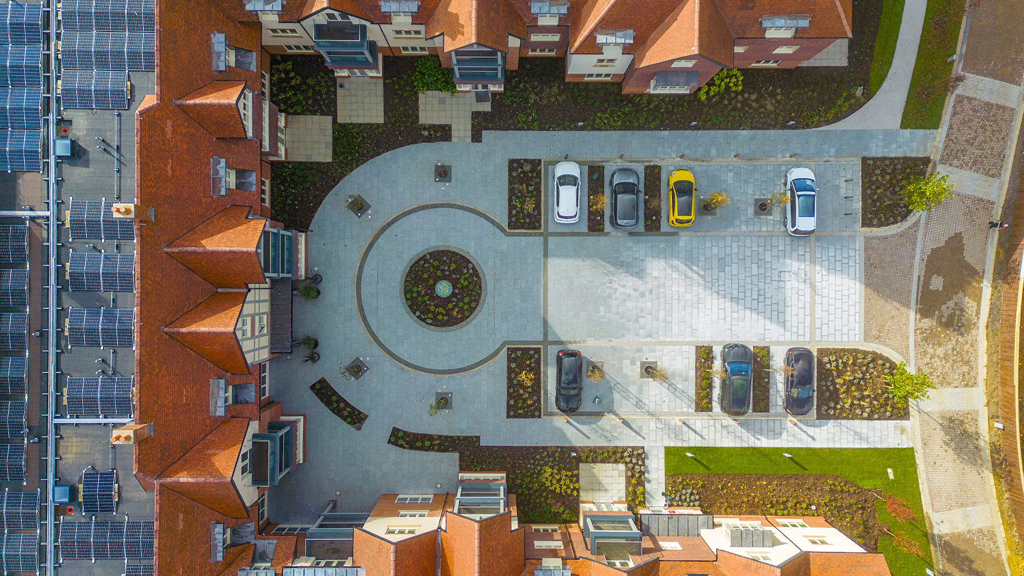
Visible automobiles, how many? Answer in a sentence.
Altogether the scene contains 7 automobiles.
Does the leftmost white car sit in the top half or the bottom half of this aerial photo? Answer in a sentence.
You can find the leftmost white car in the top half.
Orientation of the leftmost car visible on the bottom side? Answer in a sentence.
The leftmost car visible on the bottom side has been laid out from top to bottom relative to the frame.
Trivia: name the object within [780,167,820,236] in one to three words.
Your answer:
car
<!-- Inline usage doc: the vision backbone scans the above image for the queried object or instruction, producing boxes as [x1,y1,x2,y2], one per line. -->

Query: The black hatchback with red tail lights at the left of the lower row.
[553,349,585,411]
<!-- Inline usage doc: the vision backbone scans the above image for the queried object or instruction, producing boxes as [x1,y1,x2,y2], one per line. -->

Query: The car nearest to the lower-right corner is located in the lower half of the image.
[780,347,819,415]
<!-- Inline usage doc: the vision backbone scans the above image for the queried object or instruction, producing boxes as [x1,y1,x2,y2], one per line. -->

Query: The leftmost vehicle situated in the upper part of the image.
[551,162,584,223]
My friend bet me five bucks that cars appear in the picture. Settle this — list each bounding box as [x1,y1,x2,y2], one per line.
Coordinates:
[780,167,820,236]
[780,347,819,415]
[553,349,585,411]
[551,162,584,223]
[666,170,699,227]
[716,343,757,415]
[608,169,642,230]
